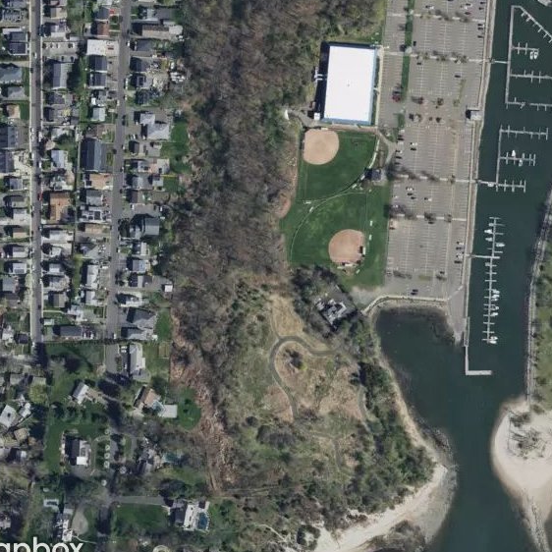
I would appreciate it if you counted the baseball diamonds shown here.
2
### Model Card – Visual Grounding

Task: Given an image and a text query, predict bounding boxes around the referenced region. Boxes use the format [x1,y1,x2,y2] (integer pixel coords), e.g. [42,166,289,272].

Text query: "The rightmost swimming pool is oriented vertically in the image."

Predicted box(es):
[196,501,210,532]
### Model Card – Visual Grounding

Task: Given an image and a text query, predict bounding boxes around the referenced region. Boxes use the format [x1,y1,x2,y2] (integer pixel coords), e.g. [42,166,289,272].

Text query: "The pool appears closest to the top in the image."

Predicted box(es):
[151,403,177,418]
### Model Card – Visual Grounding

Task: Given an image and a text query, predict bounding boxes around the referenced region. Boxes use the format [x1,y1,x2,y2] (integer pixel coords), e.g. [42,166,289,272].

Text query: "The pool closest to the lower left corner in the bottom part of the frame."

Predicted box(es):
[43,498,59,511]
